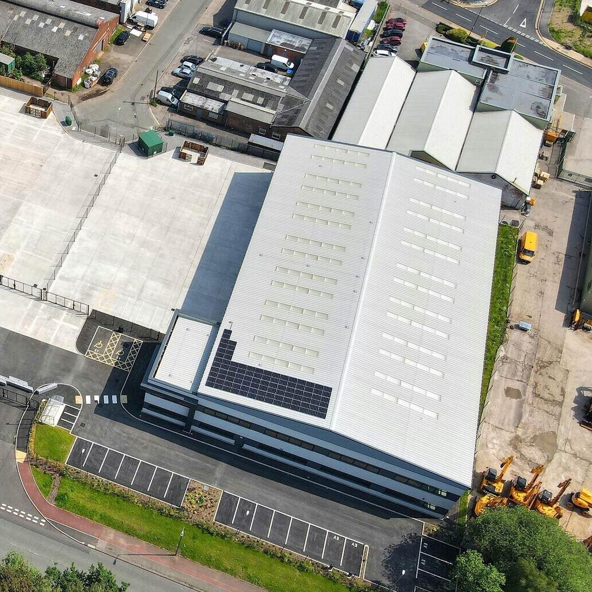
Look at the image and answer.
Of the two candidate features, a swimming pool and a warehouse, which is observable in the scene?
warehouse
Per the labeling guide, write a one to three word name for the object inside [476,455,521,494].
work vehicle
